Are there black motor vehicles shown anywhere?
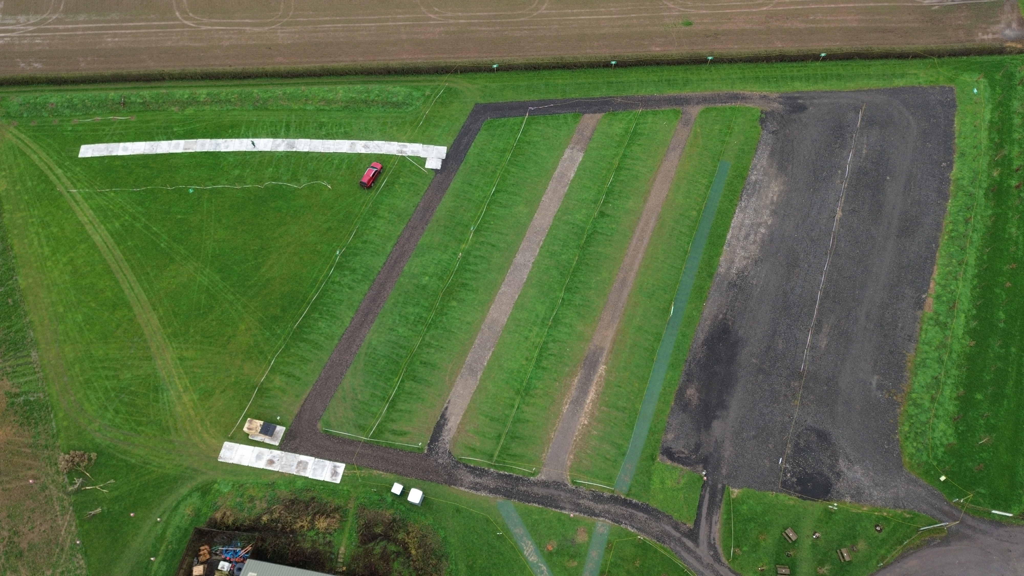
No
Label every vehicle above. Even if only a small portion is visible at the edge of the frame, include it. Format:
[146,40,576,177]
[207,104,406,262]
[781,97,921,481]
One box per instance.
[358,161,383,190]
